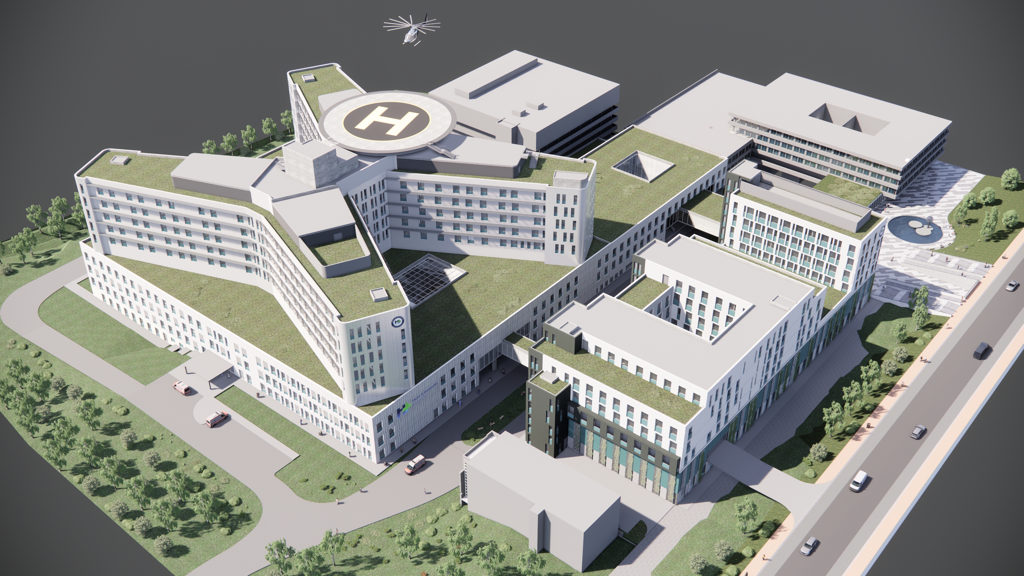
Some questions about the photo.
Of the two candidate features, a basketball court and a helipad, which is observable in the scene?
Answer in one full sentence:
Visible in the photo is a helipad.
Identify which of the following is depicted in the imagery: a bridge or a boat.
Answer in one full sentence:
It is a bridge that can be seen here.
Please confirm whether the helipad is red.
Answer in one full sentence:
No, from above the helipad looks white.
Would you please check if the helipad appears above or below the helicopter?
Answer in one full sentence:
The position of the helipad is below the helicopter.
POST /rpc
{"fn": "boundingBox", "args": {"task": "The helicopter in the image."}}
[384,14,441,46]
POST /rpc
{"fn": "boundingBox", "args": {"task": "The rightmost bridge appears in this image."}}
[707,441,837,530]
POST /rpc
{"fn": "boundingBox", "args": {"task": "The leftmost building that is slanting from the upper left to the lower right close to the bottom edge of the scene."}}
[456,429,621,573]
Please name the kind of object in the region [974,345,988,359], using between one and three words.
vehicle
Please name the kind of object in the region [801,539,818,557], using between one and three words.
car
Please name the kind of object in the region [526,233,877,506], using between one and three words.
building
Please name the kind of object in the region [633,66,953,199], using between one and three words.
building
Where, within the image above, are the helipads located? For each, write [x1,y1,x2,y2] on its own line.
[319,90,458,158]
